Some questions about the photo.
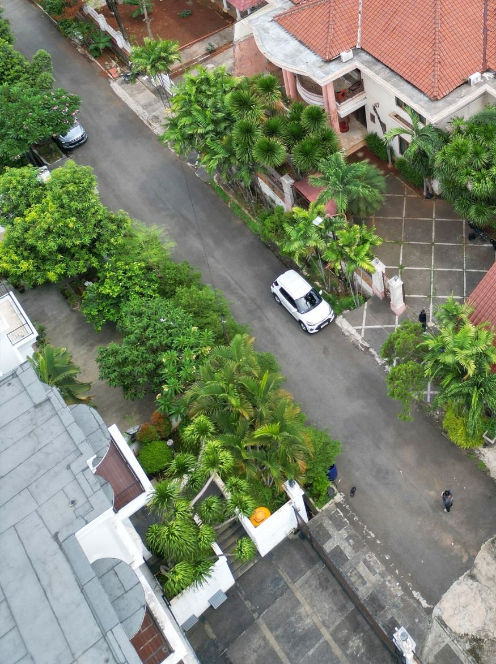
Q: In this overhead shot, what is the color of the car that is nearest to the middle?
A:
white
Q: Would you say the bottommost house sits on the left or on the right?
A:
left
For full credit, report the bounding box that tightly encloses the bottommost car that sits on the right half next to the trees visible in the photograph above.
[269,268,336,335]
